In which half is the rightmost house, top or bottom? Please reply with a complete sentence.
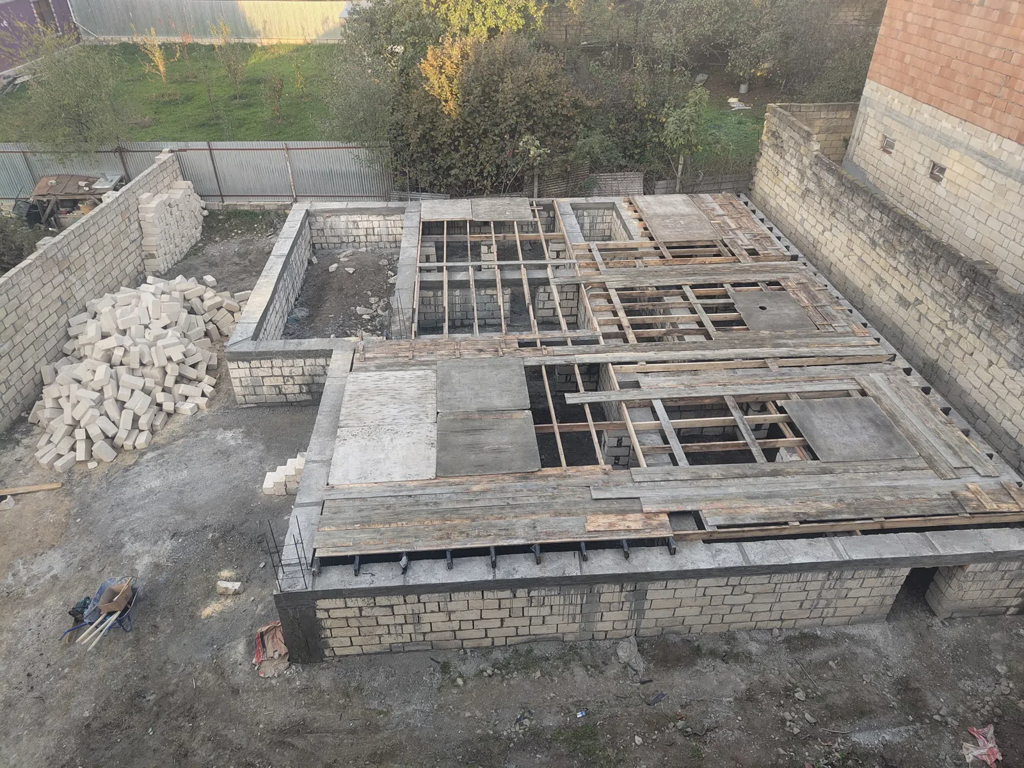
It is in the top half that the rightmost house appears.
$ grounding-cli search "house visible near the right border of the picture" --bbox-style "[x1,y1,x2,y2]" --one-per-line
[849,0,1024,289]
